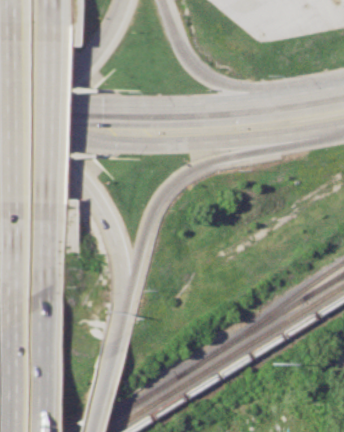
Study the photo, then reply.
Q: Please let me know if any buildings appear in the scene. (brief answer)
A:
No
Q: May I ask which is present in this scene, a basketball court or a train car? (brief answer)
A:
train car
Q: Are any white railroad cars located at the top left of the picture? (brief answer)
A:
No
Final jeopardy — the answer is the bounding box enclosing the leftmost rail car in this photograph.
[124,415,160,432]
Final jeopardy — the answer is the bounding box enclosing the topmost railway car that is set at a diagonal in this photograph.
[318,296,344,318]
